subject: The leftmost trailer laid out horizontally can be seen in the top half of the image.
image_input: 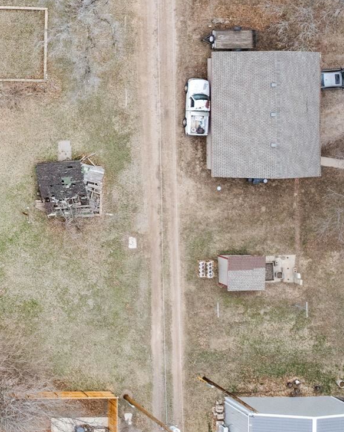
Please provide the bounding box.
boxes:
[203,27,259,52]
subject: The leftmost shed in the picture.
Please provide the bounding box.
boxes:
[35,152,113,216]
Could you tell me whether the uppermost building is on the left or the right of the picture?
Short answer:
right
